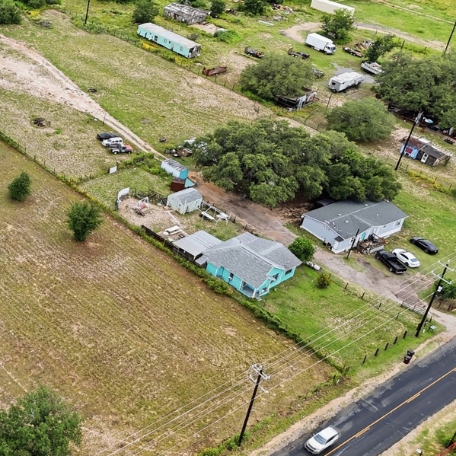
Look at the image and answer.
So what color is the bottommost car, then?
white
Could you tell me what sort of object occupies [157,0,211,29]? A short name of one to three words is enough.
house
